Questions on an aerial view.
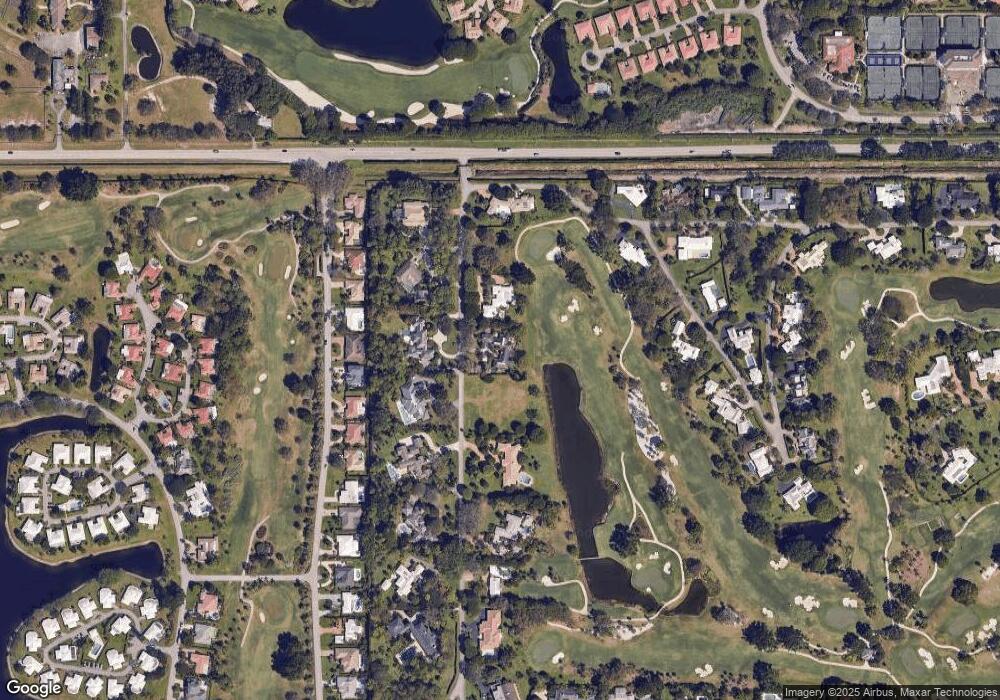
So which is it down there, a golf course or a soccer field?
golf course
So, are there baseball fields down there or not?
No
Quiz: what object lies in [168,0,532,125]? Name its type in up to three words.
golf course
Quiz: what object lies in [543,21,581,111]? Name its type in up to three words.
pond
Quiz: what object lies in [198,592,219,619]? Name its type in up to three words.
house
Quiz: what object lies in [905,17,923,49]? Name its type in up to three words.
tennis court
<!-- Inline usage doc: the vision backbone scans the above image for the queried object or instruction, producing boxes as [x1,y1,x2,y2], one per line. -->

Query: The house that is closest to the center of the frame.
[476,328,520,369]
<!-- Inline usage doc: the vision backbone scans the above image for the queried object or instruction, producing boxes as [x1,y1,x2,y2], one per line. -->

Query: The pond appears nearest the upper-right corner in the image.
[931,277,1000,311]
